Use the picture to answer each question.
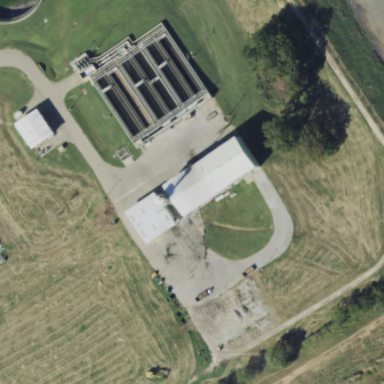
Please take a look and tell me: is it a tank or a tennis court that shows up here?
tank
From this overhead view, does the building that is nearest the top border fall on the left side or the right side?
left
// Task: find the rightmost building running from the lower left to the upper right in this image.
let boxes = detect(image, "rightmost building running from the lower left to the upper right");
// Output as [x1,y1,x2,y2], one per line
[162,136,261,218]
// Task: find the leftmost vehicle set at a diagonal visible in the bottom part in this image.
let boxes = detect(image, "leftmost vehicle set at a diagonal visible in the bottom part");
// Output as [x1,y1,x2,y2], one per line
[194,288,212,302]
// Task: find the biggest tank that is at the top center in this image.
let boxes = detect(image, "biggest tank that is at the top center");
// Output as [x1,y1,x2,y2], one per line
[90,22,213,150]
